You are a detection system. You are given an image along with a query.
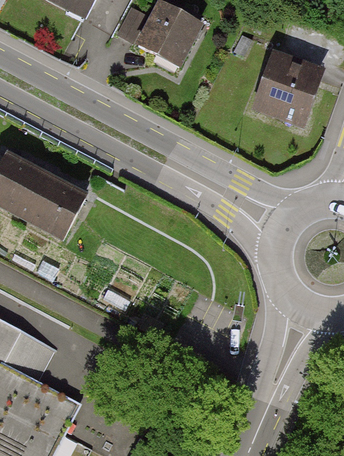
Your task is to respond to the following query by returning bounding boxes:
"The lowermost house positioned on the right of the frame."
[253,48,326,129]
